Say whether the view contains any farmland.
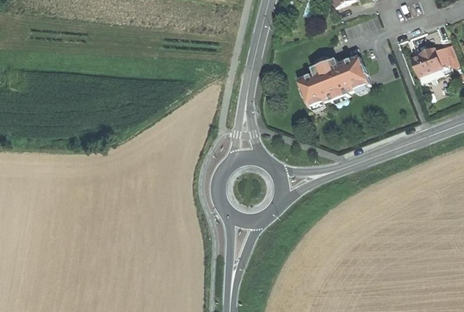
Yes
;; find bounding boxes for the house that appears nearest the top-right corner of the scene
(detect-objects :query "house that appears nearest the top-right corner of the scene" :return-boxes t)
[411,34,461,85]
